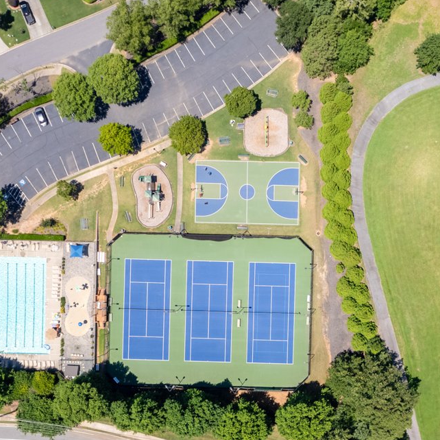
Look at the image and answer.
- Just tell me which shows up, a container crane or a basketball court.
basketball court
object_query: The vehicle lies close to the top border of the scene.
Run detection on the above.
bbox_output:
[20,1,37,26]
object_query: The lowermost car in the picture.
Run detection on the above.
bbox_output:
[35,106,49,127]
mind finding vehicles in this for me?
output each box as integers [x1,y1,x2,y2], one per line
[20,1,37,26]
[35,106,49,127]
